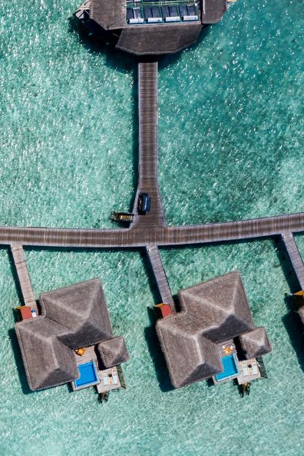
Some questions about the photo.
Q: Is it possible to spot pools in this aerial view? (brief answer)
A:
Yes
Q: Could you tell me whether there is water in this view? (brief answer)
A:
Yes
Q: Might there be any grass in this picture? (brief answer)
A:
No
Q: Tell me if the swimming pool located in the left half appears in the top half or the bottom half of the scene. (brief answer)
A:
bottom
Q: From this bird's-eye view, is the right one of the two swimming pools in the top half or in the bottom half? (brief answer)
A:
bottom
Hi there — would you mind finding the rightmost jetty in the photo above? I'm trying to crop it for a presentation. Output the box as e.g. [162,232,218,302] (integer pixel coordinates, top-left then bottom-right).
[276,232,304,288]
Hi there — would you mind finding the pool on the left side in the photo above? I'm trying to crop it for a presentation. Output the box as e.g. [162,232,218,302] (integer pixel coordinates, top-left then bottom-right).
[67,359,100,391]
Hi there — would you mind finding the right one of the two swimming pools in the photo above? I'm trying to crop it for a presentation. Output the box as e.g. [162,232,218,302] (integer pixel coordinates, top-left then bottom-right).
[206,351,240,384]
